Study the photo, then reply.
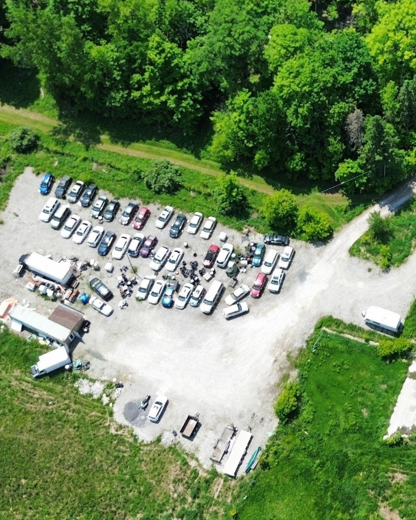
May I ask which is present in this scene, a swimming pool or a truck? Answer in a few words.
truck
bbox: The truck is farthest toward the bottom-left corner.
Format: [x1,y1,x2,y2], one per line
[31,346,71,379]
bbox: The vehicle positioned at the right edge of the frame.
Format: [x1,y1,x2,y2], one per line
[360,306,401,333]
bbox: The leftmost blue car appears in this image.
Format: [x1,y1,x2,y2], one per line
[39,175,53,195]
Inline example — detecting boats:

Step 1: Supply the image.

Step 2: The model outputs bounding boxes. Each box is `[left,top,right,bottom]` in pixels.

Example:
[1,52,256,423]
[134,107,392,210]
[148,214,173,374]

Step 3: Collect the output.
[247,448,260,473]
